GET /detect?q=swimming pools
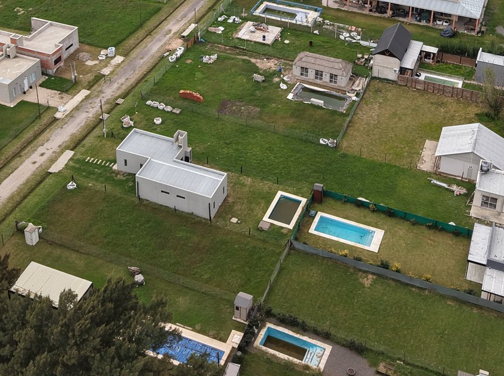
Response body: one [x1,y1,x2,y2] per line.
[424,70,464,85]
[153,321,230,372]
[287,83,352,111]
[264,191,308,229]
[254,0,318,21]
[310,211,385,251]
[256,322,332,367]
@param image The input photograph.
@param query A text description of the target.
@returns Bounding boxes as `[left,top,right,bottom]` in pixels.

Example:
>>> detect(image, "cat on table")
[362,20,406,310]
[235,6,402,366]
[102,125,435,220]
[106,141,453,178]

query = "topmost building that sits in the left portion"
[0,22,80,74]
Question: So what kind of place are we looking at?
residential area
